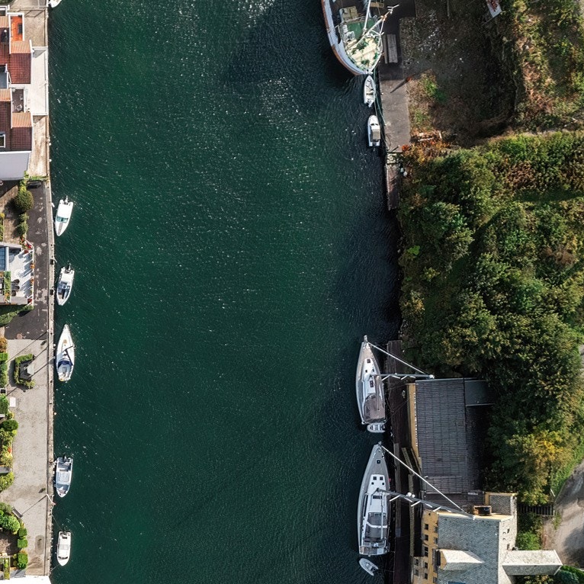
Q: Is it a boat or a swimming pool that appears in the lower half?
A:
boat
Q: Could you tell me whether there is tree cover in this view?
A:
Yes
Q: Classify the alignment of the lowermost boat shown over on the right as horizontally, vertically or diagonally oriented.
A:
diagonally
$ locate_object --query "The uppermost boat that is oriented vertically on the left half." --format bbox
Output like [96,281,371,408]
[55,194,74,236]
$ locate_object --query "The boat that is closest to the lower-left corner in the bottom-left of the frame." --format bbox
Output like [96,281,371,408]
[57,526,70,564]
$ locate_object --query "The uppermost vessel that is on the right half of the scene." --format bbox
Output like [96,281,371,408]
[322,0,392,79]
